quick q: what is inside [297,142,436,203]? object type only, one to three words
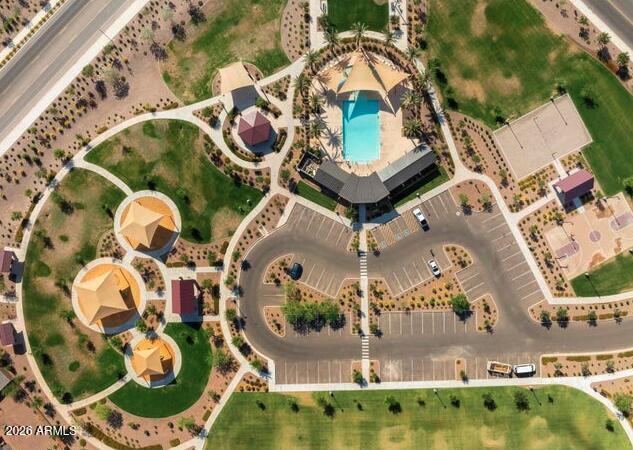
building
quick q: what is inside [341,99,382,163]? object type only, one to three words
swimming pool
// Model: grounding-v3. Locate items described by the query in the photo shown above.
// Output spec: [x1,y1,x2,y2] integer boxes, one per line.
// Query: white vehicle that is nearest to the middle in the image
[412,205,430,231]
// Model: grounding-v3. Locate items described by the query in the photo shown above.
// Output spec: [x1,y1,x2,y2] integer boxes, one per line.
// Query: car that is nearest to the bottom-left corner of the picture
[289,261,304,282]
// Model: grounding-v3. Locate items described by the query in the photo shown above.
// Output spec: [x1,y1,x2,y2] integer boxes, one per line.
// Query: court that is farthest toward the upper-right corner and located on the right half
[493,93,593,180]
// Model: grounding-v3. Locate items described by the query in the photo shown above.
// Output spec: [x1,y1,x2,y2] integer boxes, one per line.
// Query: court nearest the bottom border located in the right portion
[545,193,633,279]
